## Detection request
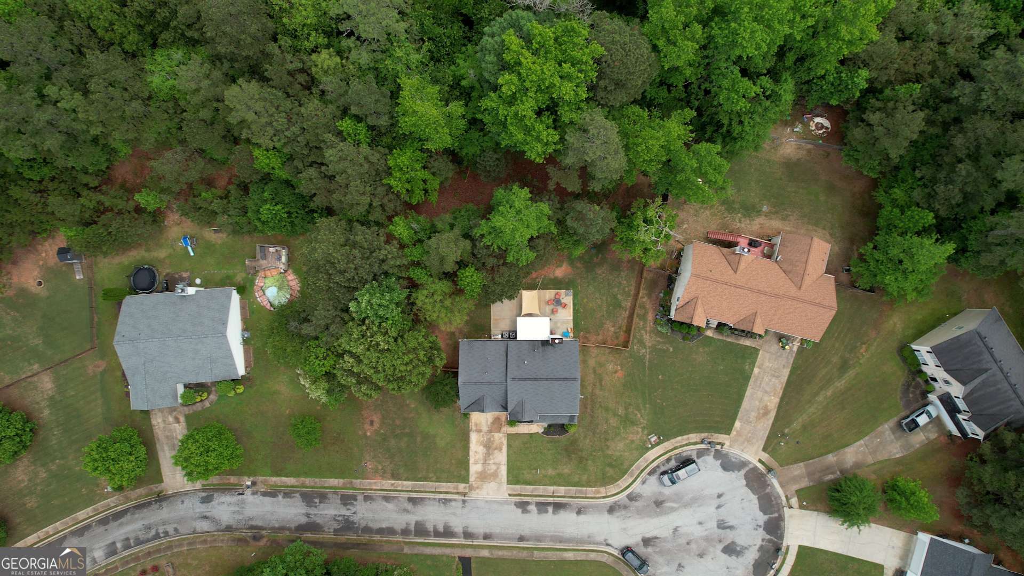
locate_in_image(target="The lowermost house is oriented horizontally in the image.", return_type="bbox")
[904,533,1004,576]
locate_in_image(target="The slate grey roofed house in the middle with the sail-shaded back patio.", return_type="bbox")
[458,316,583,424]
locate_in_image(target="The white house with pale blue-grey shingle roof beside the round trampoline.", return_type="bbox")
[117,286,245,409]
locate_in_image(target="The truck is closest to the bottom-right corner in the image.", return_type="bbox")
[895,400,941,436]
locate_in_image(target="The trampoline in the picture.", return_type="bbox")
[125,264,161,295]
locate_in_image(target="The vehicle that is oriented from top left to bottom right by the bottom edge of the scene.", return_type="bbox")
[620,543,649,576]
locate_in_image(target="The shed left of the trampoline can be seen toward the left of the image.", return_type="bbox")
[51,250,81,278]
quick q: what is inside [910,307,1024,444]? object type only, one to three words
house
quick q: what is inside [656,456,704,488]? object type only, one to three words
truck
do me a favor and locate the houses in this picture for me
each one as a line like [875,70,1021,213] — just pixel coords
[117,286,245,409]
[904,533,1004,576]
[910,307,1024,444]
[671,232,837,344]
[458,316,583,424]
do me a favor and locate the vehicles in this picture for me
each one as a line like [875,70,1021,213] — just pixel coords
[656,456,704,488]
[620,543,649,576]
[895,400,941,436]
